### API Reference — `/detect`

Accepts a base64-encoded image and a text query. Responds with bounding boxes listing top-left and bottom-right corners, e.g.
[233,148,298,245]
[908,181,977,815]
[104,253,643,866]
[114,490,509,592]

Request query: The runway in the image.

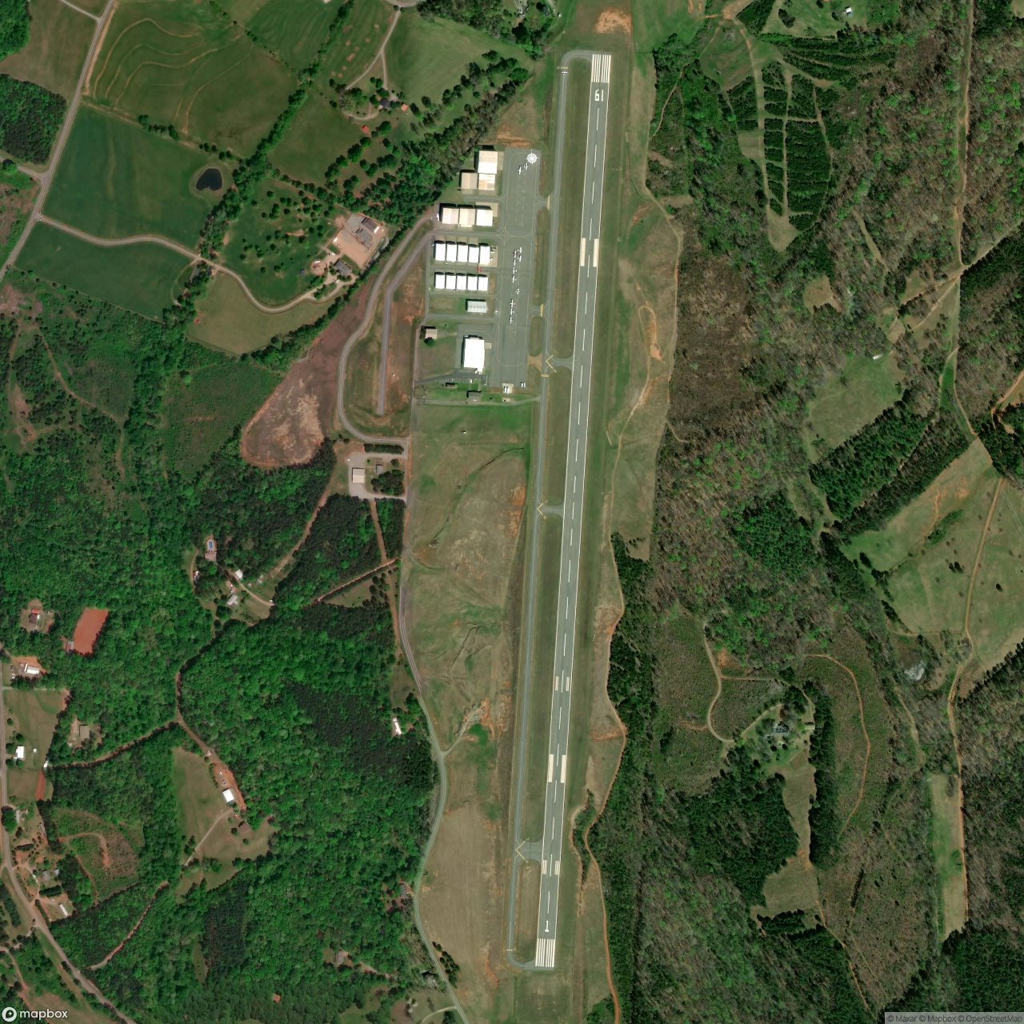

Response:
[535,53,611,972]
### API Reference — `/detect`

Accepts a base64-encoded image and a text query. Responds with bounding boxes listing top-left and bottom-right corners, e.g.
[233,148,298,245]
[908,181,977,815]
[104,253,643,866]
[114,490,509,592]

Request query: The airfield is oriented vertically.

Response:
[415,50,612,972]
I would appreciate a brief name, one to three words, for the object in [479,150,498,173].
hangar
